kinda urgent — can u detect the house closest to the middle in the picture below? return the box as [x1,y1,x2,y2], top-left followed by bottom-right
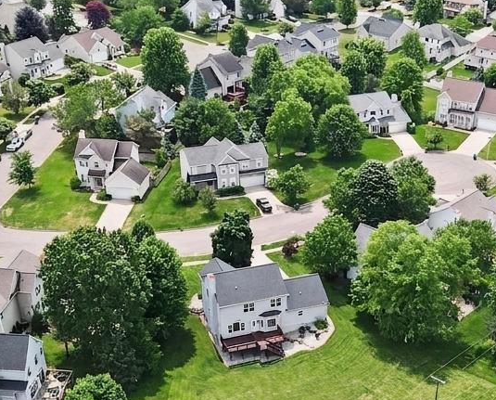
[182,129,271,197]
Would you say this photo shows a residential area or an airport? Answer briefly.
residential area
